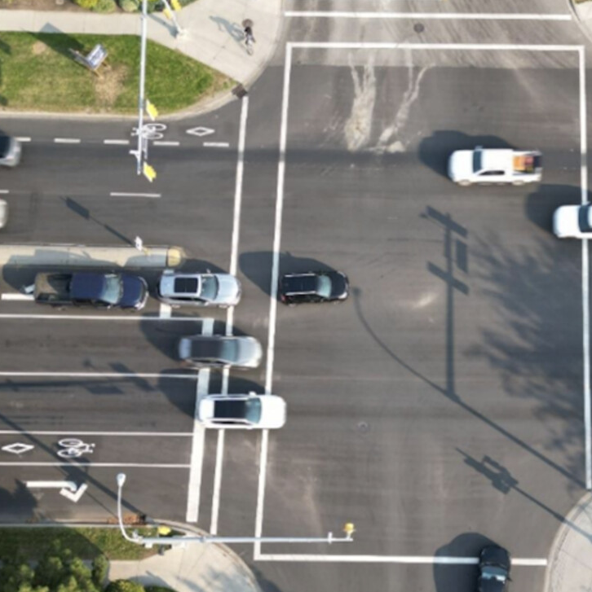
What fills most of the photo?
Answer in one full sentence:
The scene is dominated by paved ground.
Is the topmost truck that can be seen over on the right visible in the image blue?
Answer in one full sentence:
No, from above the topmost truck that can be seen over on the right looks white.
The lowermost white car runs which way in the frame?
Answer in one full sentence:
The lowermost white car runs horizontally in the image.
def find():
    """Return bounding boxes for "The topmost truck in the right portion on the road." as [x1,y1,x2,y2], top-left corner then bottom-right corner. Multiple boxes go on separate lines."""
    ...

[448,142,543,189]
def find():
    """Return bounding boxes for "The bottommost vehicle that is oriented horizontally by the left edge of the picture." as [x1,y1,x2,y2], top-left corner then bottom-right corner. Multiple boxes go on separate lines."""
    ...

[28,267,152,311]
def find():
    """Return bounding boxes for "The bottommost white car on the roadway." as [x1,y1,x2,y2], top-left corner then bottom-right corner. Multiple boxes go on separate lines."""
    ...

[196,388,288,432]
